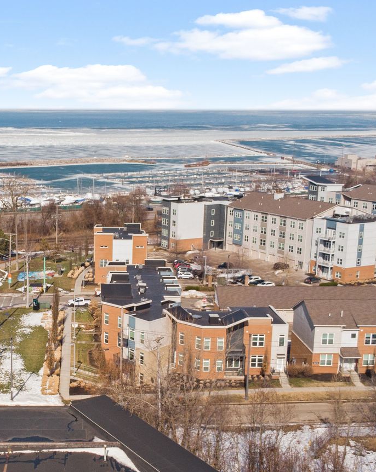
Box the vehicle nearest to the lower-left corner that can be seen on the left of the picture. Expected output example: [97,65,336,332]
[65,296,93,308]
